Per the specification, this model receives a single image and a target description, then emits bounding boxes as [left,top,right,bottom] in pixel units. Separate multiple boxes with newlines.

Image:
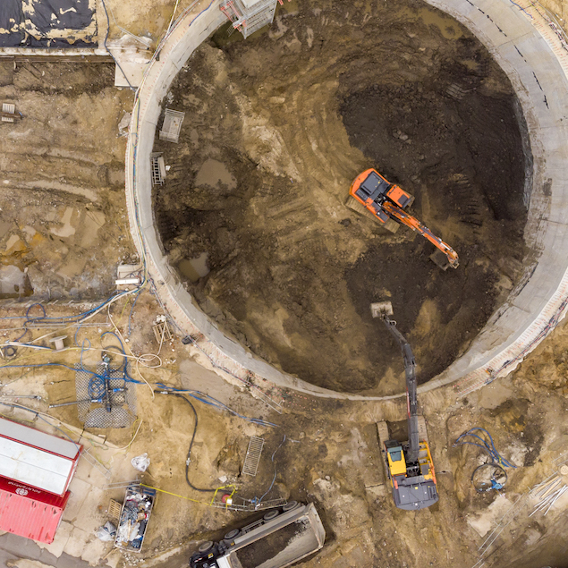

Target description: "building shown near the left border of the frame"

[0,419,84,495]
